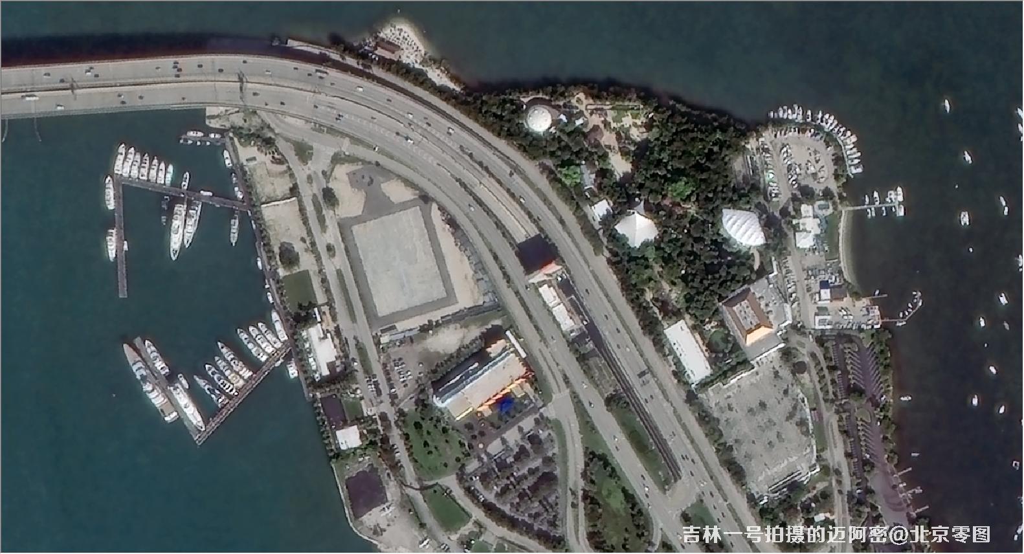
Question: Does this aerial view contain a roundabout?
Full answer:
No, the picture doesn't show any roundabout.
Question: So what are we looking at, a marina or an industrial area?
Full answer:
The area seen from above is a marina.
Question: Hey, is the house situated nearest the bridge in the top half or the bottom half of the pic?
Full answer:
The house situated nearest the bridge sits in the top half of the picture.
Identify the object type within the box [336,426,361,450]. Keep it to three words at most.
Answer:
building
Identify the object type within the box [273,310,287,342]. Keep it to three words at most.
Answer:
boat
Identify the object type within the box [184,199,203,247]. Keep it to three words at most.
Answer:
boat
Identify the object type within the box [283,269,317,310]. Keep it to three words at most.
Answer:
sports field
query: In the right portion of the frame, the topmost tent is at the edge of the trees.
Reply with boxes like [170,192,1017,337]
[615,212,660,248]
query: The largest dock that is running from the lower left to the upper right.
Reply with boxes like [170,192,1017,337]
[198,346,291,443]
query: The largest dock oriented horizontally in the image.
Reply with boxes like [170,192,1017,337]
[116,173,246,208]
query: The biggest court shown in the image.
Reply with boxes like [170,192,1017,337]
[320,395,347,430]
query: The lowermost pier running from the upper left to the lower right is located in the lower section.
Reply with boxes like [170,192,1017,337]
[136,335,201,441]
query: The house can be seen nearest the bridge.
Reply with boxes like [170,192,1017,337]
[375,36,400,60]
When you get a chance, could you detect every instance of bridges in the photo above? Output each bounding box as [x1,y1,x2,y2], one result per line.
[0,54,360,138]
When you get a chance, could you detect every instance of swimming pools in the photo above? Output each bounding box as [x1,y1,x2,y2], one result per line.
[815,200,833,217]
